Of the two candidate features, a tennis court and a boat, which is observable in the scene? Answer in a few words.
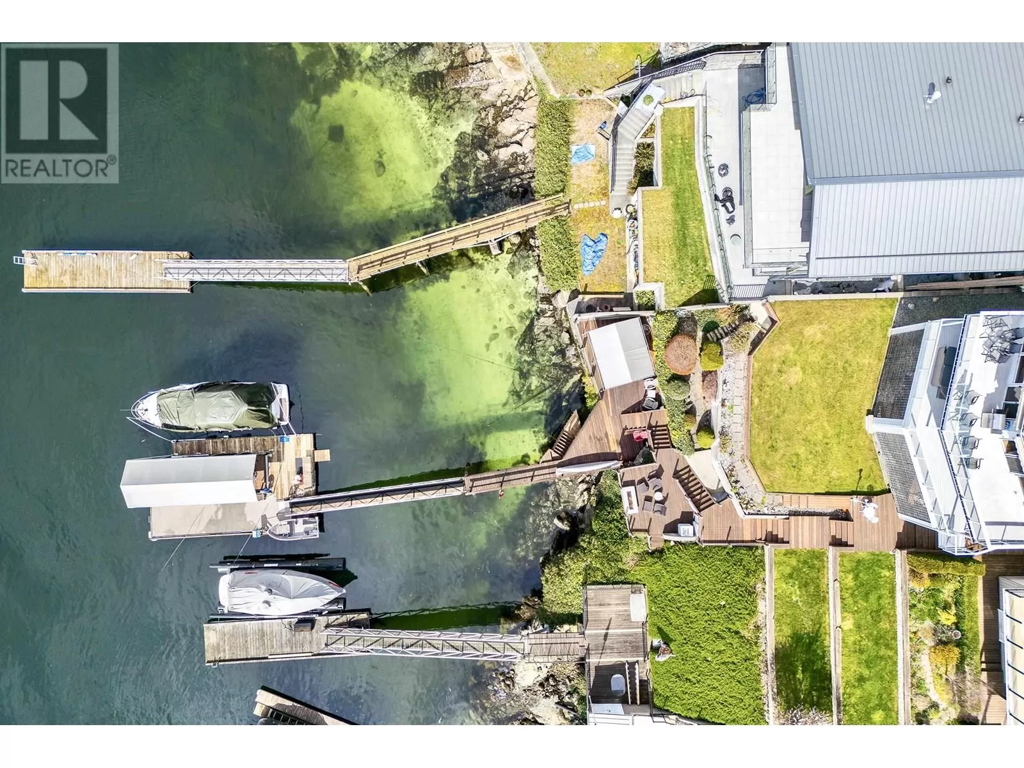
boat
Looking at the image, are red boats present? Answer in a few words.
No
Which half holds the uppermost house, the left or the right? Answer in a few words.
right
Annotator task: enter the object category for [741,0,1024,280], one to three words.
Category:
house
